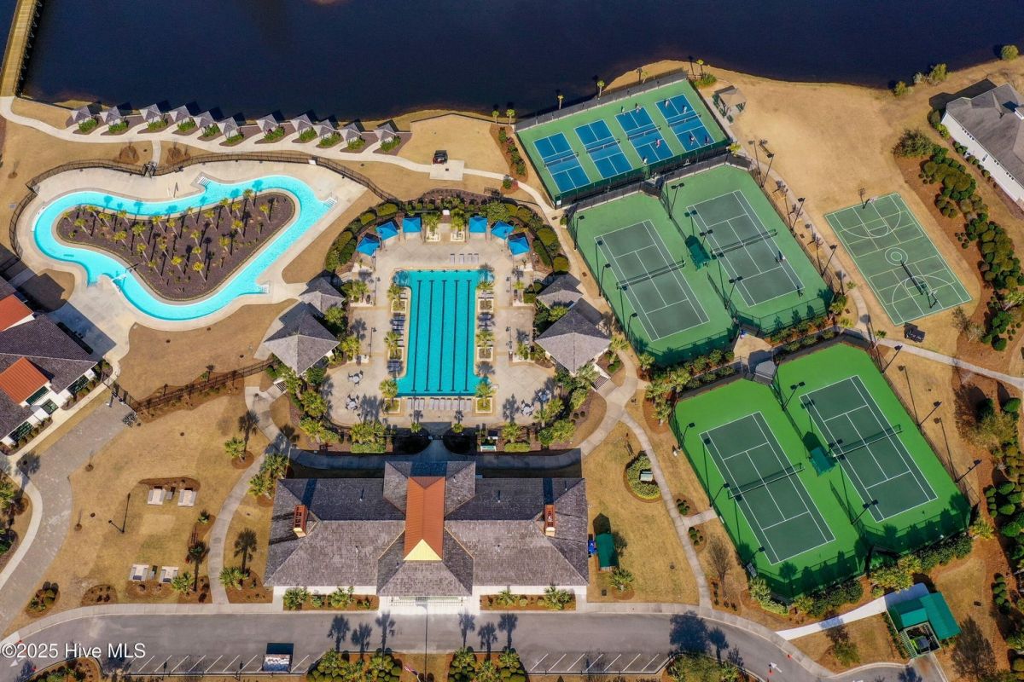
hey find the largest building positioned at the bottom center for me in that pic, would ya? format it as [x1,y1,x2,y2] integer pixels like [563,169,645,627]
[264,461,589,611]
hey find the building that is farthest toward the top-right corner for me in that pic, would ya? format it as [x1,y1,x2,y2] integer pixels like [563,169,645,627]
[941,79,1024,220]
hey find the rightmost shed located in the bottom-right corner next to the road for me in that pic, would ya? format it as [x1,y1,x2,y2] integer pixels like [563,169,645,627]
[887,592,964,657]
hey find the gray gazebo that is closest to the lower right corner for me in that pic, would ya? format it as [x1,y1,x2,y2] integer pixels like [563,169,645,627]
[749,361,778,391]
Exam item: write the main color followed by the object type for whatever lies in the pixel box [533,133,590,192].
blue sports court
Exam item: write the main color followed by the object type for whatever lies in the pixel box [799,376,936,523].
green tennis court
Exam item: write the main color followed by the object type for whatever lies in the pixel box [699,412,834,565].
green tennis court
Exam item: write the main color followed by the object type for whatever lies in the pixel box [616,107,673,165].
blue sports court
